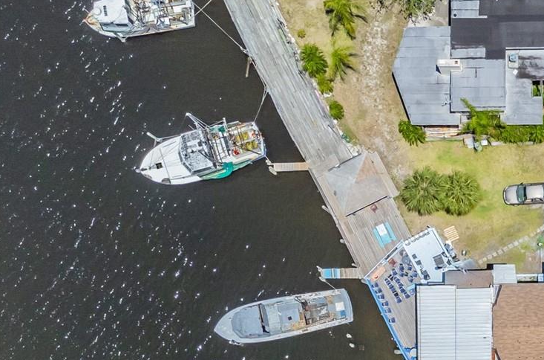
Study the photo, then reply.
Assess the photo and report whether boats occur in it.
Yes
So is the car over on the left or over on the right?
right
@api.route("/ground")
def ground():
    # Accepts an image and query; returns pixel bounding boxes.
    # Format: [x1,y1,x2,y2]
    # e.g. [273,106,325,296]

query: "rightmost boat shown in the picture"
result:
[215,288,355,345]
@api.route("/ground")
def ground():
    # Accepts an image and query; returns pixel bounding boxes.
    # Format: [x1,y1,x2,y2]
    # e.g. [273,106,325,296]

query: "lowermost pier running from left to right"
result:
[324,268,363,281]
